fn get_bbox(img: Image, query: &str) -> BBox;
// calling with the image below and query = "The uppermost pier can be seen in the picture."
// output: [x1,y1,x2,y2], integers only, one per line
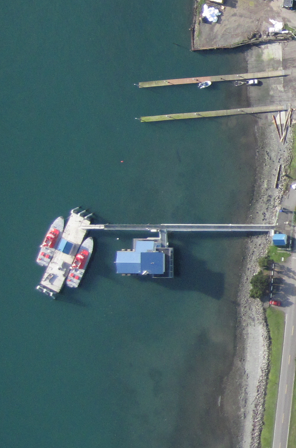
[134,70,286,88]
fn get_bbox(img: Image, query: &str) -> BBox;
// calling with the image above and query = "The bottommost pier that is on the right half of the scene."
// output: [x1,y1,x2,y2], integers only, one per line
[149,224,275,248]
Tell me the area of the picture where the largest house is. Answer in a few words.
center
